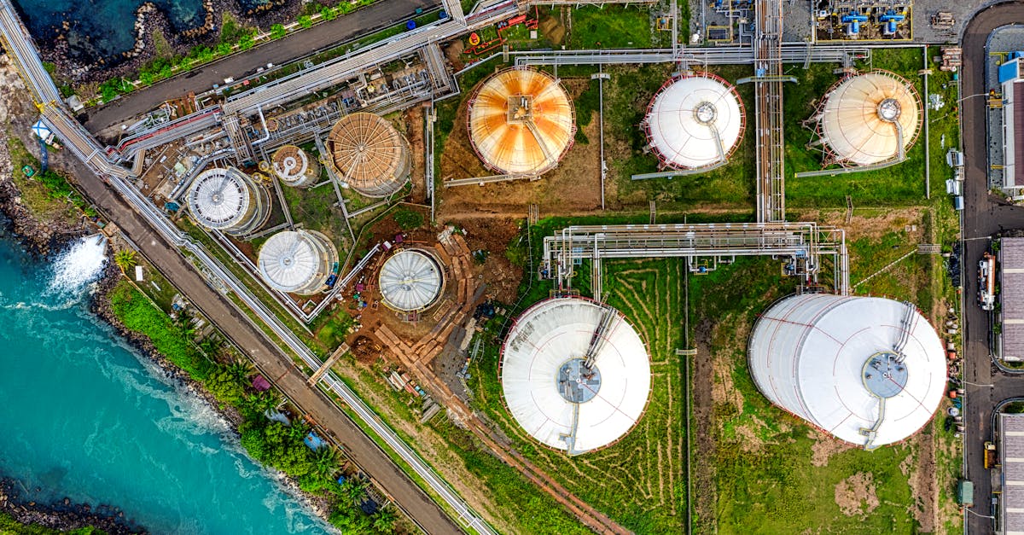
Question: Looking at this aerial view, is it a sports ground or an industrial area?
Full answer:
It's an industrial area.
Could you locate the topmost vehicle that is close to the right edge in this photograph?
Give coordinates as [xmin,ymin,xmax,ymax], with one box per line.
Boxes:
[976,253,995,310]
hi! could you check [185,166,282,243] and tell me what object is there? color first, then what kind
white storage tank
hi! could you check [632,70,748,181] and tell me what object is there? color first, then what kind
white storage tank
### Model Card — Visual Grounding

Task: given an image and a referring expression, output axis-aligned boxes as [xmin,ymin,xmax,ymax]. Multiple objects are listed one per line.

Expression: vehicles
[981,441,997,467]
[976,253,995,310]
